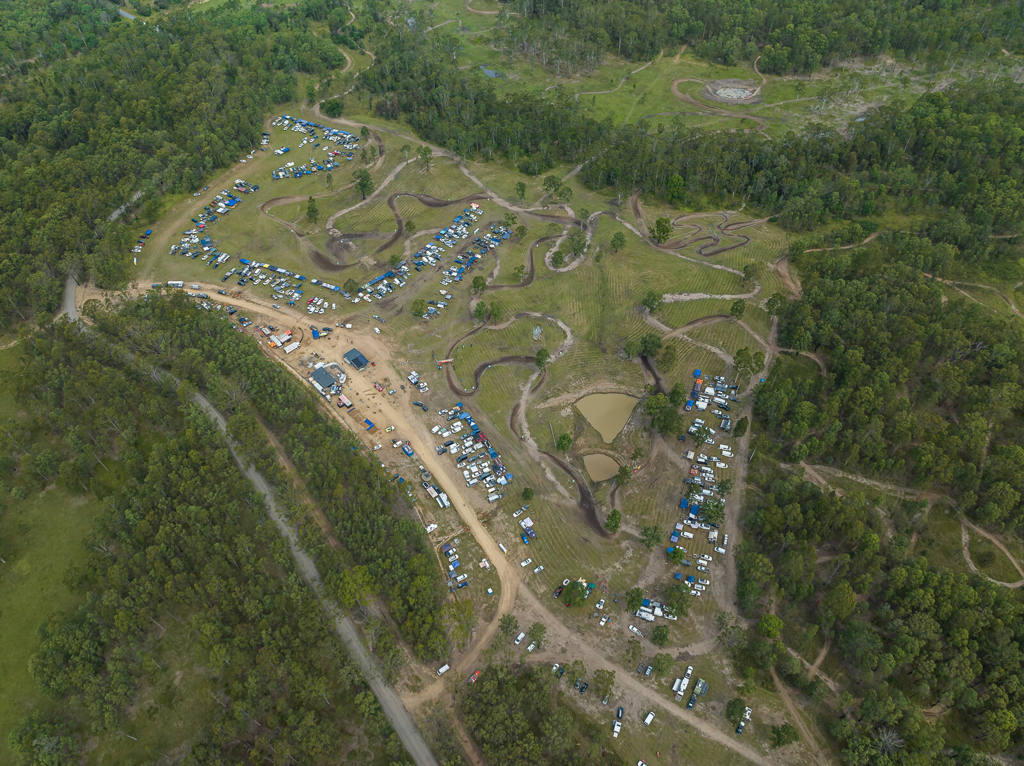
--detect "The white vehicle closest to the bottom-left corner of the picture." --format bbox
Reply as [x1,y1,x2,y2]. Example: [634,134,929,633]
[436,663,451,677]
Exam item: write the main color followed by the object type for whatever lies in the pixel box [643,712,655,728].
white vehicle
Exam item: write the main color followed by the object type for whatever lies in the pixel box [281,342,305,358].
white vehicle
